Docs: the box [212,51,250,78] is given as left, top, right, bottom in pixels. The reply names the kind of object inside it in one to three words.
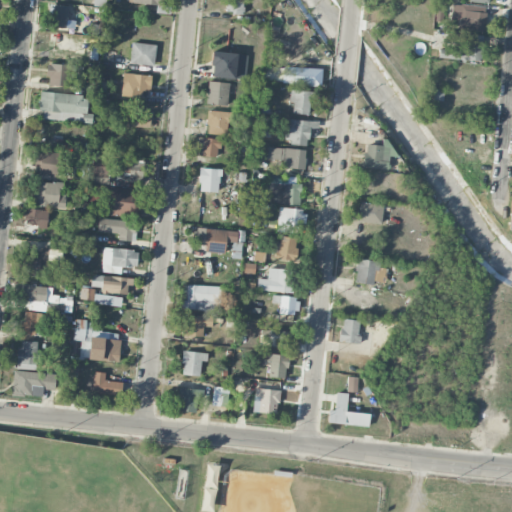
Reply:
house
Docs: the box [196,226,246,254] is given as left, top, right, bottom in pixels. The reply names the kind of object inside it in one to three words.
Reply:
house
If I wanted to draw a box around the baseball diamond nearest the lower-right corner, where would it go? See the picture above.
[227,471,378,512]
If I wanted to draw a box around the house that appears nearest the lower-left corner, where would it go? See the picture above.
[11,372,56,397]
